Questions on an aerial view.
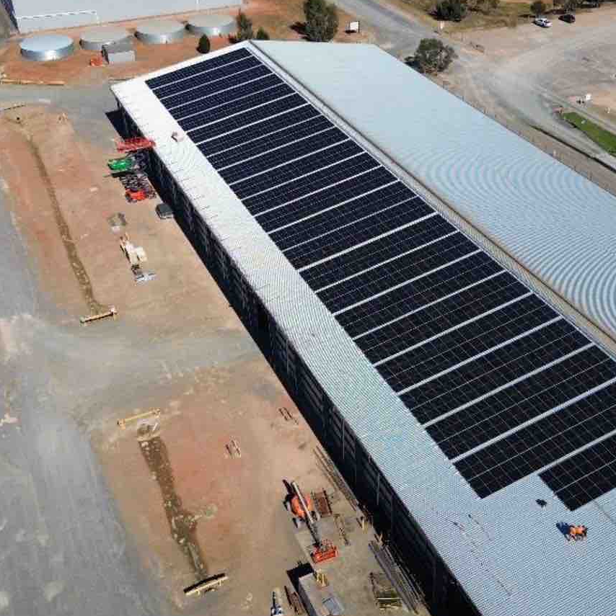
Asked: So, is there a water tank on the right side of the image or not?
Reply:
No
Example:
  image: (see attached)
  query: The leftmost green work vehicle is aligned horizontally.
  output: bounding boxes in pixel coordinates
[93,154,137,177]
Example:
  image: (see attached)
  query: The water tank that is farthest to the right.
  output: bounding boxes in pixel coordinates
[188,17,236,38]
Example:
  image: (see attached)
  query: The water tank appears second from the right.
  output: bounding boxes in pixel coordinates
[136,21,186,45]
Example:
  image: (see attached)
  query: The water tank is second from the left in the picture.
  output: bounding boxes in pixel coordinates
[80,28,132,52]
